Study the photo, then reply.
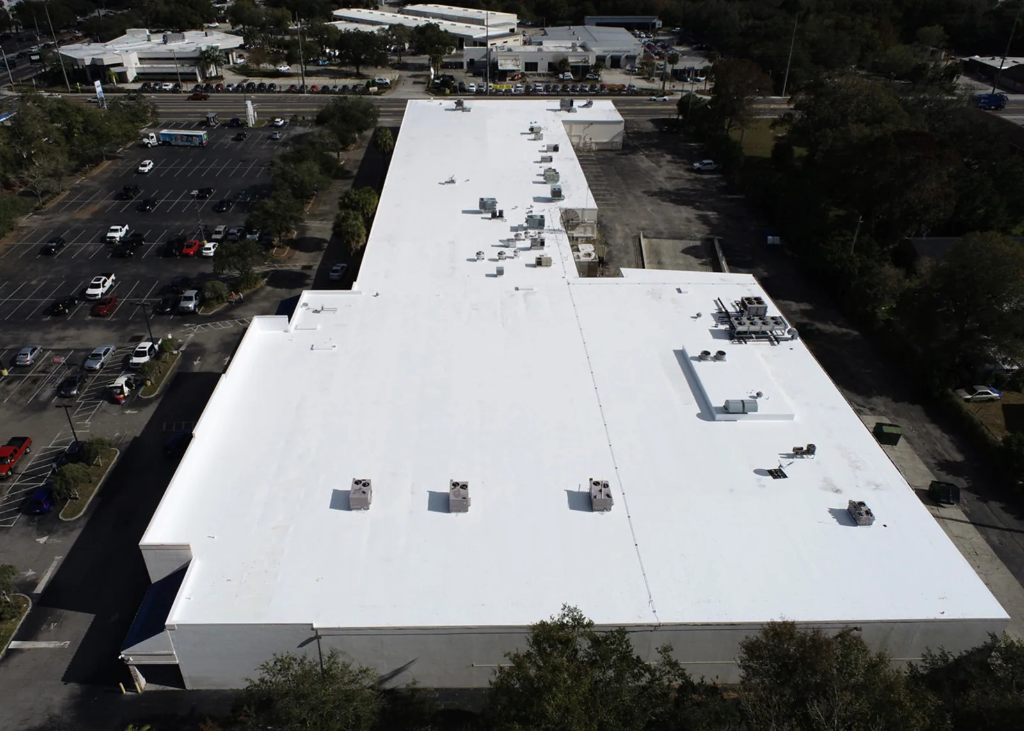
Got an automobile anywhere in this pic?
Yes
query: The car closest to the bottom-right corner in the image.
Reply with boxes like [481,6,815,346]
[959,387,1004,403]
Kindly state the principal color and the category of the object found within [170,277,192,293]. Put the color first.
black car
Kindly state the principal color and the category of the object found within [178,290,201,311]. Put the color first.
gray car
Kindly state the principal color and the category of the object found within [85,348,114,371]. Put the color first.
gray car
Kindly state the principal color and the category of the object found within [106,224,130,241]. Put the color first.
white vehicle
